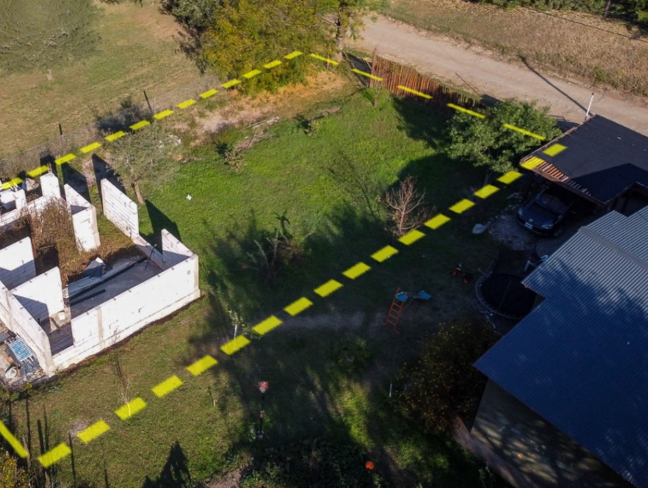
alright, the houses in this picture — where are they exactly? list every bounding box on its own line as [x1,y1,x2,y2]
[0,170,205,377]
[468,205,648,488]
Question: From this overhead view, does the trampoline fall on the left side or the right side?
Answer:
right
